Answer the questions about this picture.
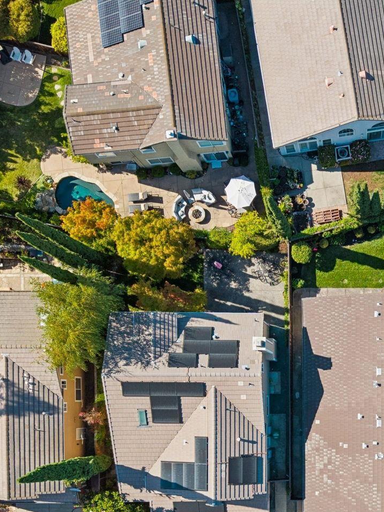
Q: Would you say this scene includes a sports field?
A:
No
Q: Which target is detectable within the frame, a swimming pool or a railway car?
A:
swimming pool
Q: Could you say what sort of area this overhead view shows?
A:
residential area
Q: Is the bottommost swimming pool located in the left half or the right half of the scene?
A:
left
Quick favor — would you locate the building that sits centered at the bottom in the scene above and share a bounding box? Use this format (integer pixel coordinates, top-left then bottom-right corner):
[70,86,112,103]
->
[101,312,286,512]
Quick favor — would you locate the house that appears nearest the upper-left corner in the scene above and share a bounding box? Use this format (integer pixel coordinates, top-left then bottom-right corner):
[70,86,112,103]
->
[63,0,234,176]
